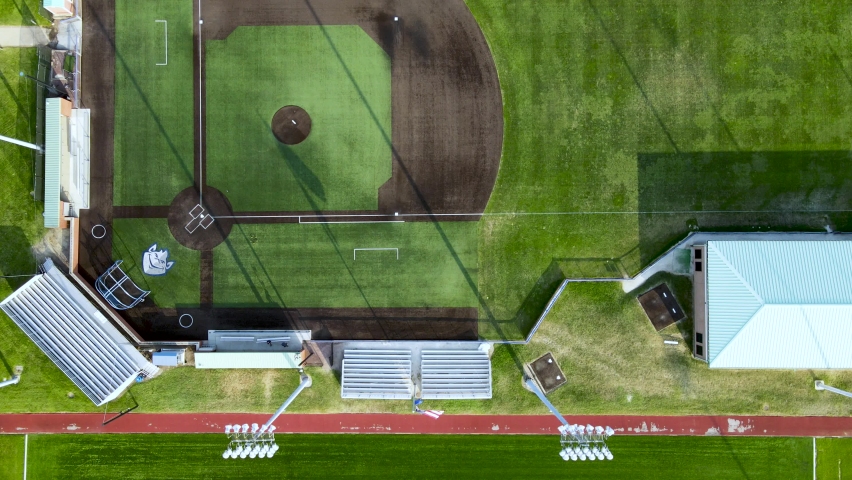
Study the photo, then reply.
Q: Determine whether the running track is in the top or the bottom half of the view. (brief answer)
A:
bottom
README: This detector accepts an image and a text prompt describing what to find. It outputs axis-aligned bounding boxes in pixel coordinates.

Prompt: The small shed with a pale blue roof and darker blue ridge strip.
[152,349,182,365]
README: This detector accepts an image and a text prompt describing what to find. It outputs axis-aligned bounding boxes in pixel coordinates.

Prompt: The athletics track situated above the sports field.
[0,414,852,436]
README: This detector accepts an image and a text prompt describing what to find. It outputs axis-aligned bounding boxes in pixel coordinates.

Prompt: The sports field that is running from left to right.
[26,434,814,480]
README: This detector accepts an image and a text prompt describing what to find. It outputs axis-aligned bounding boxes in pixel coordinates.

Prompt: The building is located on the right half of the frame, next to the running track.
[692,240,852,369]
